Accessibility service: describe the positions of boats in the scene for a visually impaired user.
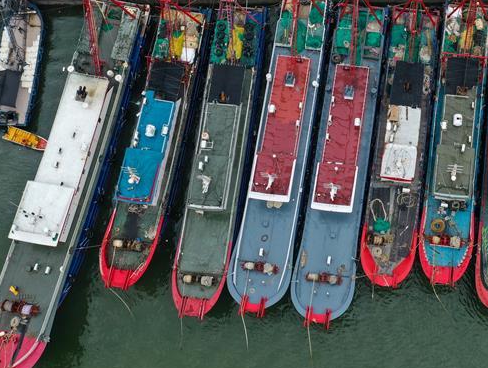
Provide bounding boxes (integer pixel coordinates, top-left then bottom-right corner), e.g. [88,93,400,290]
[0,0,47,126]
[173,0,266,324]
[1,128,44,149]
[229,0,330,320]
[420,0,488,291]
[363,0,439,293]
[102,0,208,294]
[293,0,387,328]
[0,0,155,368]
